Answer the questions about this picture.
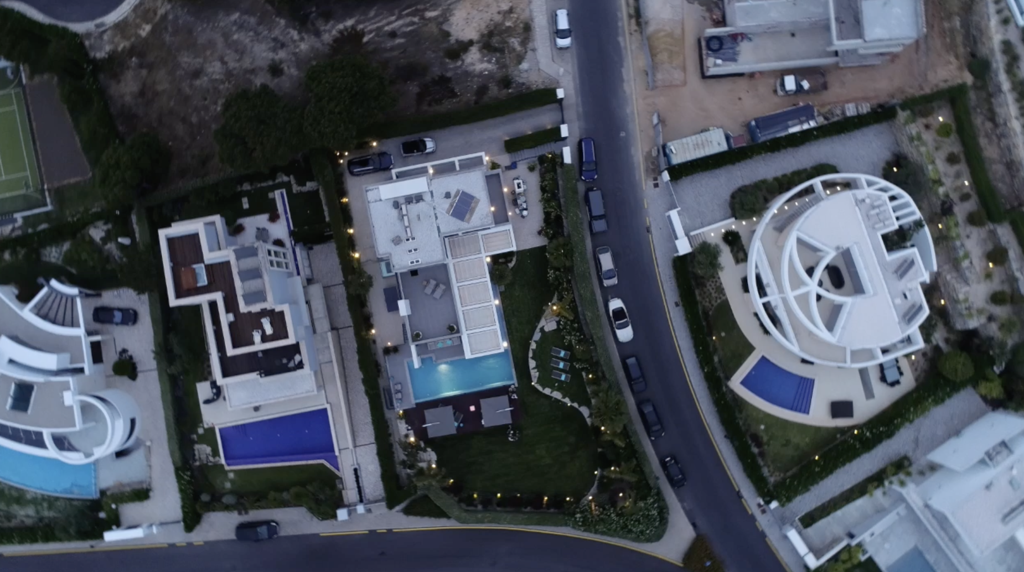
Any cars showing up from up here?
Yes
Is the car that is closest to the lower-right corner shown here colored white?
No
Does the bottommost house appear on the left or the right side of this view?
right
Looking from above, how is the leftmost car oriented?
from side to side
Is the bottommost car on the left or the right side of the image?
left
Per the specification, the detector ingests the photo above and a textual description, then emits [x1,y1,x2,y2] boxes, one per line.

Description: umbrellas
[480,395,518,427]
[422,406,457,438]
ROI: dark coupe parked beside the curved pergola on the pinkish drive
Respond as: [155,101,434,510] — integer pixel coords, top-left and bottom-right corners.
[91,306,139,327]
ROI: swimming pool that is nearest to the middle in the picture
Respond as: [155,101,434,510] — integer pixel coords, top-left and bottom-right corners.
[403,276,520,407]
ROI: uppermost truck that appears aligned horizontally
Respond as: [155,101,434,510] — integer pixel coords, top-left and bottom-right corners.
[779,71,828,95]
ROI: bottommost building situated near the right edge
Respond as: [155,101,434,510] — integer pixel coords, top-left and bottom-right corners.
[888,407,1024,572]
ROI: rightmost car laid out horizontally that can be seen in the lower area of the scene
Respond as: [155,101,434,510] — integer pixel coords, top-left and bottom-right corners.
[234,519,280,542]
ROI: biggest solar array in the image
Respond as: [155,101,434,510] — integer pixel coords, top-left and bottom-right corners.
[446,189,480,223]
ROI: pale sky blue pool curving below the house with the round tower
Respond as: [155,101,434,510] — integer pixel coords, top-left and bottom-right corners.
[0,444,101,500]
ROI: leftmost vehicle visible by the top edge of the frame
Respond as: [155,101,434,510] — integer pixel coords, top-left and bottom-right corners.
[553,7,572,49]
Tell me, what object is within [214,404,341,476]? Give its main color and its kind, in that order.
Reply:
blue swimming pool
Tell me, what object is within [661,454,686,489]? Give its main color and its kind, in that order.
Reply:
black car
